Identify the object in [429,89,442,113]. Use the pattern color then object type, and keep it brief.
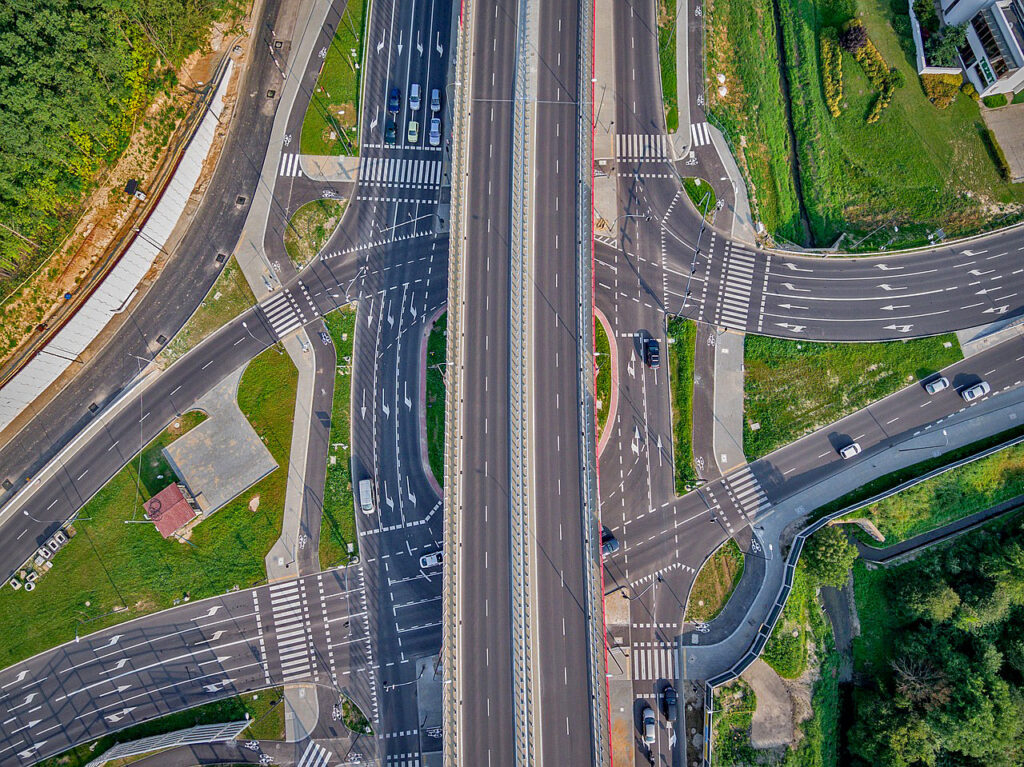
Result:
blue vehicle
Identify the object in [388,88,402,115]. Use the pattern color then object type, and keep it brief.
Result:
blue car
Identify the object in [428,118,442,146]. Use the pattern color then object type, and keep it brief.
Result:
blue car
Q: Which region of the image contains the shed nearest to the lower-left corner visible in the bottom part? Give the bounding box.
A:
[142,480,209,538]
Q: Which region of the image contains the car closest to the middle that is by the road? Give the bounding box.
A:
[644,339,659,367]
